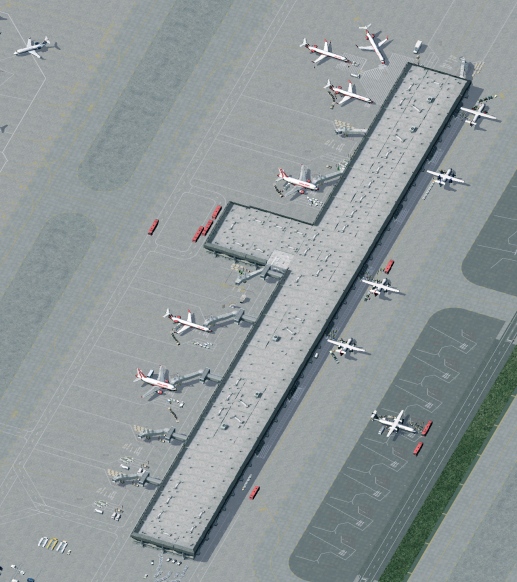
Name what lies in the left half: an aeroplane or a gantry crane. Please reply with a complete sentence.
It is an aeroplane that can be seen in the left half.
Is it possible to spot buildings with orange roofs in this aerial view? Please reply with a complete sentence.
No, this view has no building with an orange roof in it.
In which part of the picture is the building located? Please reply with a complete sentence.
Look in the center portion of the view to spot the building.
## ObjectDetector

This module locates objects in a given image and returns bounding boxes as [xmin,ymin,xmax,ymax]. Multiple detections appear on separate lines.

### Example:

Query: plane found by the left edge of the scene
[15,36,51,56]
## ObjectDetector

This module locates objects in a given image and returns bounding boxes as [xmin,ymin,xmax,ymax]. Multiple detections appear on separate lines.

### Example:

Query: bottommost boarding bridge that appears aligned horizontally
[111,471,162,493]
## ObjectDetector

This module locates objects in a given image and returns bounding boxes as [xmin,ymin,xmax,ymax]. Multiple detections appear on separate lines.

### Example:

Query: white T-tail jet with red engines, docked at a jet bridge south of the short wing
[162,308,211,336]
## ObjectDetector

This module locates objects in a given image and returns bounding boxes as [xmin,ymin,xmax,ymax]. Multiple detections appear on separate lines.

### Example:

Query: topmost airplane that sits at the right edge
[461,105,495,127]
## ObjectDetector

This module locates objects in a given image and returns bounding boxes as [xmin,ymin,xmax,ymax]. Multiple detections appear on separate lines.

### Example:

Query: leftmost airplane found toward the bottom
[128,365,176,399]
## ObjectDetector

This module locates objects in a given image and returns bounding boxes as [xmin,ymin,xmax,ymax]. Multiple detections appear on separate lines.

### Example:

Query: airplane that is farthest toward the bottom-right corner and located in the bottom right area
[373,410,416,438]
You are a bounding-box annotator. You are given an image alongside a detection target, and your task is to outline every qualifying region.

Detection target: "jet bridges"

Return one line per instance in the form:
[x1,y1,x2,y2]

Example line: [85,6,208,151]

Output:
[111,471,162,493]
[168,368,222,389]
[311,168,345,188]
[333,128,369,140]
[202,309,254,330]
[137,427,187,448]
[234,264,284,287]
[458,55,466,80]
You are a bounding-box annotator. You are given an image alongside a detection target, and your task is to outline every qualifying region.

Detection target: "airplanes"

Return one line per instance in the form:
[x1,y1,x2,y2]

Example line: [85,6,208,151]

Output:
[301,39,349,66]
[15,36,51,56]
[362,280,397,302]
[128,365,176,399]
[273,164,318,196]
[354,23,389,63]
[327,340,362,363]
[324,80,373,107]
[427,170,461,192]
[373,410,416,438]
[461,105,495,127]
[162,308,211,336]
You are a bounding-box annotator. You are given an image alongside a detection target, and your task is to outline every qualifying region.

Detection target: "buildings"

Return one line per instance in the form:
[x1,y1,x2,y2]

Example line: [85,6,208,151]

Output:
[131,63,473,558]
